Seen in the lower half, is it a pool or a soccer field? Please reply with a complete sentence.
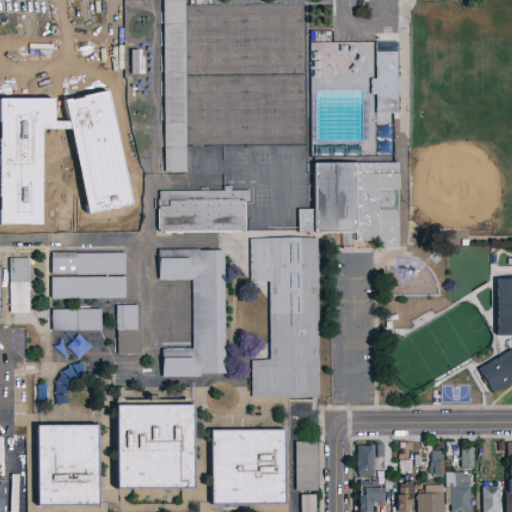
The one visible in the lower half is a soccer field.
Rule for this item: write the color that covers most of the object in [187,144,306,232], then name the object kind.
gray sports court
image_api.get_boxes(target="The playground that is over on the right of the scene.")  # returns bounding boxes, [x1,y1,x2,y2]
[391,254,441,297]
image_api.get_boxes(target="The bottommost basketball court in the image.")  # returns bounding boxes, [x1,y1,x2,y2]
[442,384,472,404]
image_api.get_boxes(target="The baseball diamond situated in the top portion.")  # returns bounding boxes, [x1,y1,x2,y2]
[412,141,502,227]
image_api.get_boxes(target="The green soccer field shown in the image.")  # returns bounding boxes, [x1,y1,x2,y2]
[392,302,494,390]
